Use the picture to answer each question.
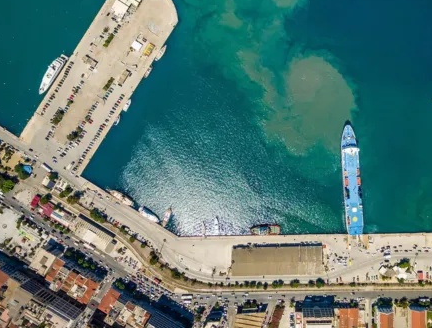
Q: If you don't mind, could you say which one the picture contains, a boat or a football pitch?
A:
boat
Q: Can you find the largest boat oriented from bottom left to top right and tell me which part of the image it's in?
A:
top left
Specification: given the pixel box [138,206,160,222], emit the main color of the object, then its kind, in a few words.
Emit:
white boat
